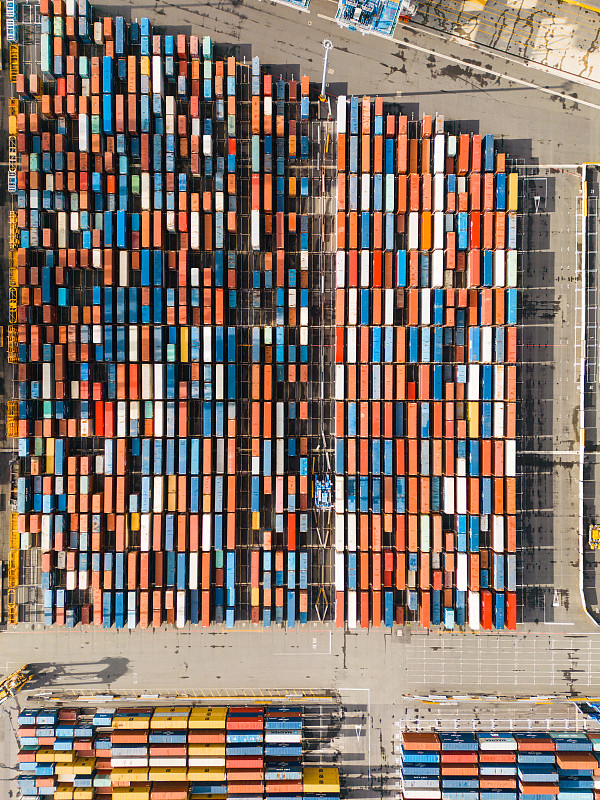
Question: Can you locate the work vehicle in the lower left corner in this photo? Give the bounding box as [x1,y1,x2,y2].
[0,662,34,705]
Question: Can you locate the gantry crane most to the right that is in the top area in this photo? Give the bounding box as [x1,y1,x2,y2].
[335,0,423,41]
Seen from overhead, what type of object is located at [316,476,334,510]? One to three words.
work vehicle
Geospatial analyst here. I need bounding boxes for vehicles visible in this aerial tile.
[316,476,334,510]
[0,662,34,705]
[588,525,600,549]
